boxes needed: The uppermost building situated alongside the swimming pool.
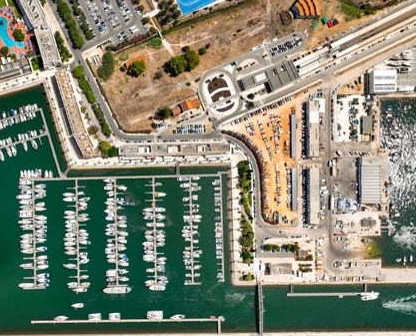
[22,0,53,32]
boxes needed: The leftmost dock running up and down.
[22,180,45,289]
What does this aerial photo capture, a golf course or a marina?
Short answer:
marina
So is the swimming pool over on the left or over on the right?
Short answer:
left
